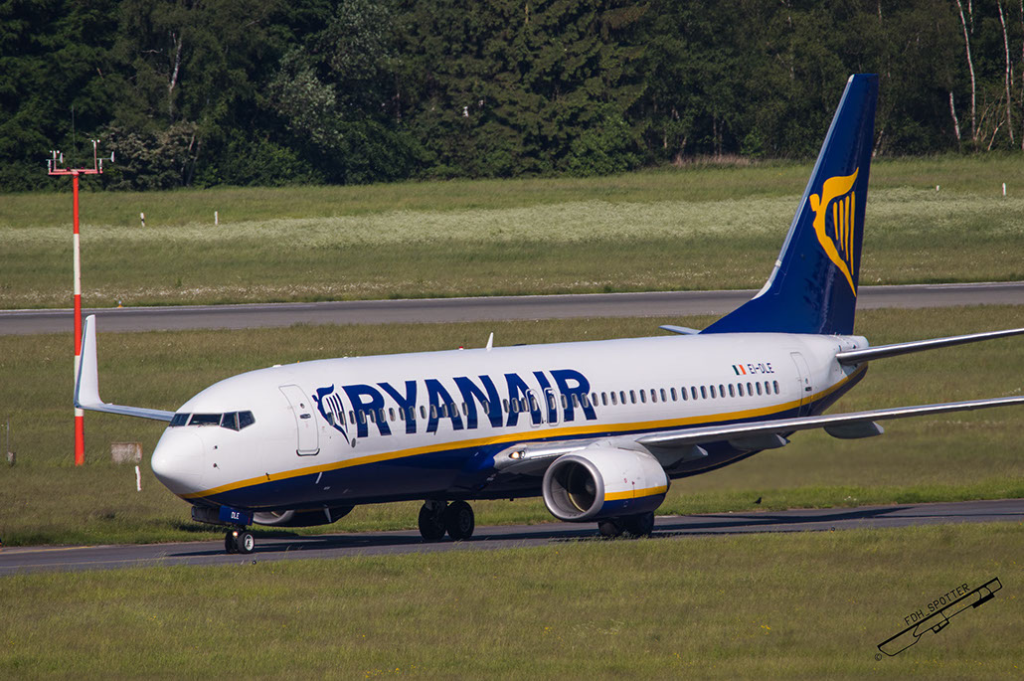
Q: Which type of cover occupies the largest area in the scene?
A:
grass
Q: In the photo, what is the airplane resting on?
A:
grass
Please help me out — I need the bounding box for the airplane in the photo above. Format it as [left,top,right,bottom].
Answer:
[69,72,1024,554]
